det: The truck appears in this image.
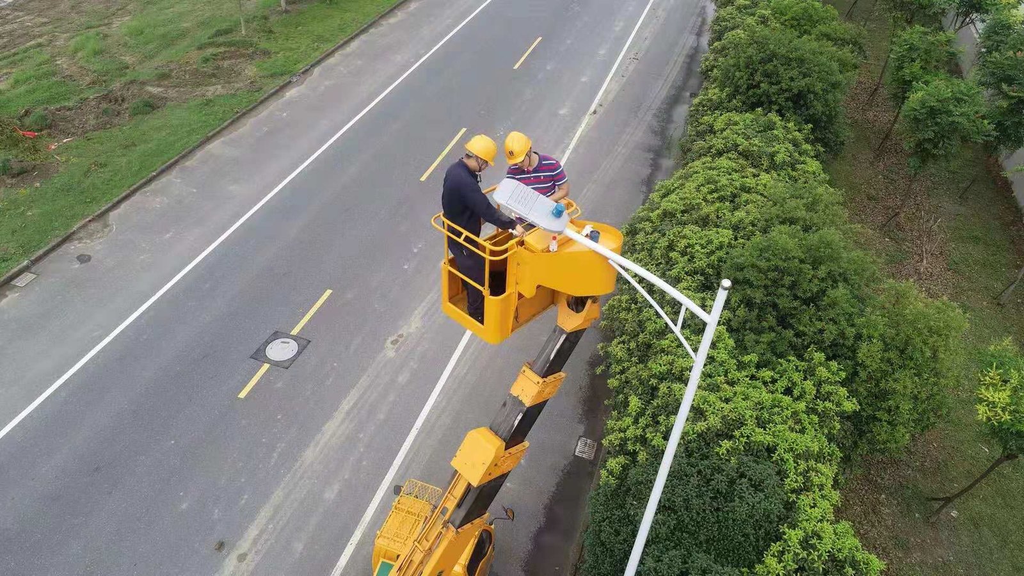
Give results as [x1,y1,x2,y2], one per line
[367,174,623,576]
